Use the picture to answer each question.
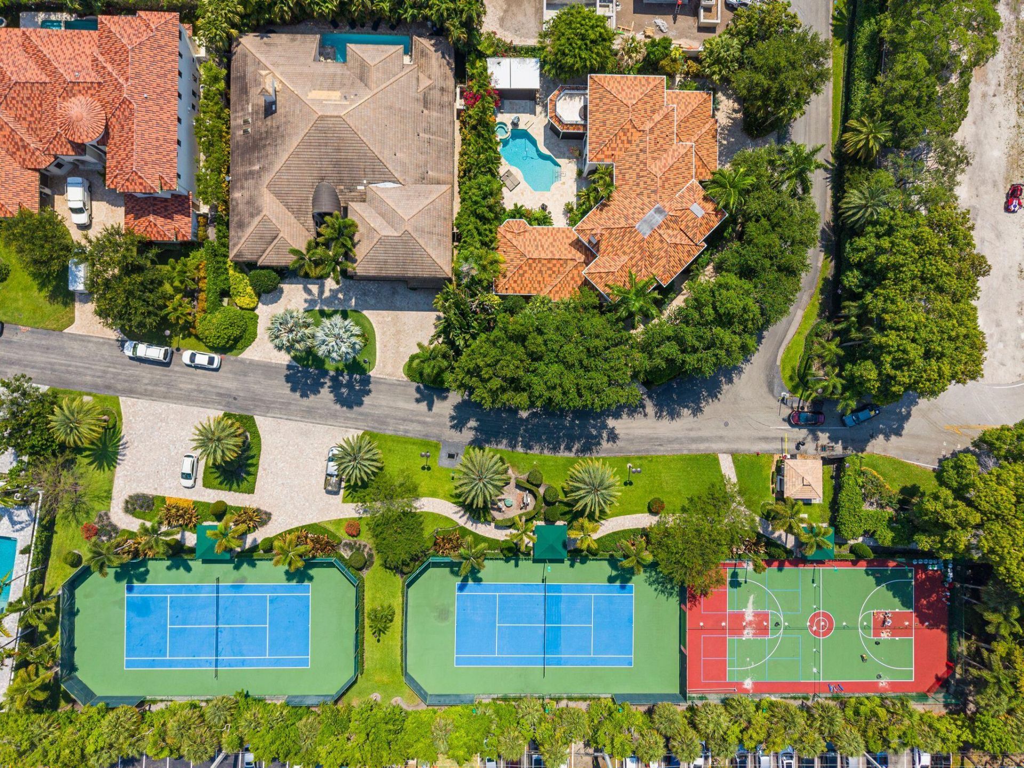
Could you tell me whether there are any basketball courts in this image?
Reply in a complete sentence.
Yes, there's a basketball court here.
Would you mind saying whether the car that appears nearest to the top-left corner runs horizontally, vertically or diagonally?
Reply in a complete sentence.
The car that appears nearest to the top-left corner runs vertically in the image.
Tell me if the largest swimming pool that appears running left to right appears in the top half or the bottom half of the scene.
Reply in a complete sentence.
It is in the top half that the largest swimming pool that appears running left to right appears.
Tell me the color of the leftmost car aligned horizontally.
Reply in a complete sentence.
The leftmost car aligned horizontally looks white in the image.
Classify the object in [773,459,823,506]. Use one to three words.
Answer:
building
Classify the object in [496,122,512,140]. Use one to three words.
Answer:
swimming pool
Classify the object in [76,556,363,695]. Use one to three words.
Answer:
tennis court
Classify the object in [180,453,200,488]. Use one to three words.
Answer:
car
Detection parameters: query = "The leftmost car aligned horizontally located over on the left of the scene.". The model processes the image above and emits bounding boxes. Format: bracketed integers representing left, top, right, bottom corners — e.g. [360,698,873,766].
[125,341,174,363]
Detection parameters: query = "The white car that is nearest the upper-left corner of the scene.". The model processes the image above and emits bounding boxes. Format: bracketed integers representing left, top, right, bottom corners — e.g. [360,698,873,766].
[70,178,94,226]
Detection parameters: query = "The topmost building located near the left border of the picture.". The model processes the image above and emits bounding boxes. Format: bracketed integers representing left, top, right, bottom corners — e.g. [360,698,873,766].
[0,10,204,242]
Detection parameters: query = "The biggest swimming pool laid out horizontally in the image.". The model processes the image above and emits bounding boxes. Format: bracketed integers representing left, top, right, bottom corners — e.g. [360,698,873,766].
[319,32,412,63]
